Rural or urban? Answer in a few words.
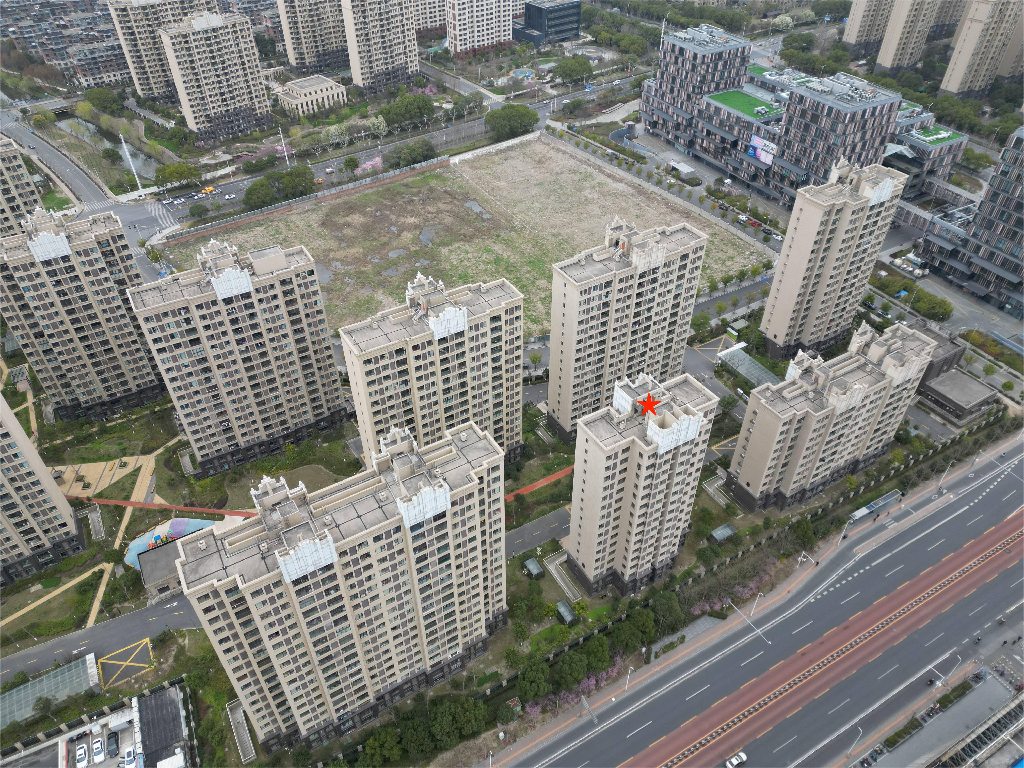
urban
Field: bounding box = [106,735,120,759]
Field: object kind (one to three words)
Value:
car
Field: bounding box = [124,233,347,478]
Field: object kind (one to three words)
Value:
building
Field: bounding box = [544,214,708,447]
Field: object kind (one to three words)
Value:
building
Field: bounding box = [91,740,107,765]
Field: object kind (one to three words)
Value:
car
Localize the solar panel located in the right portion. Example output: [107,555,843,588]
[868,487,902,509]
